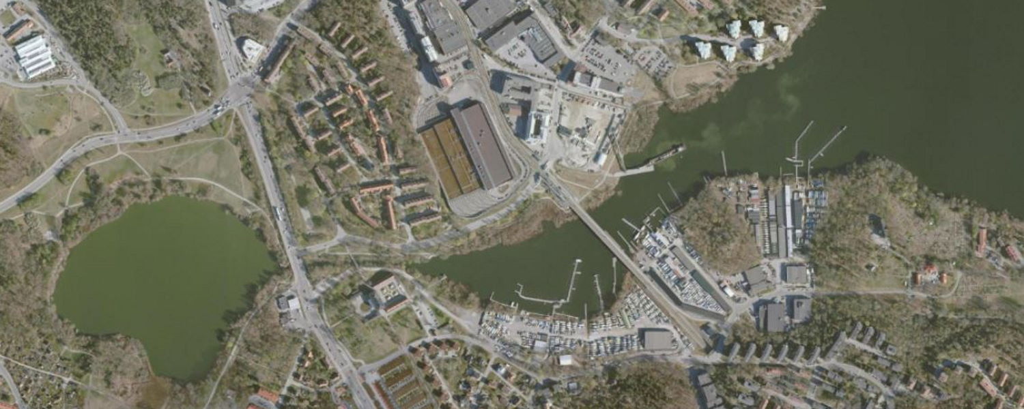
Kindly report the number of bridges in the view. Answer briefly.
1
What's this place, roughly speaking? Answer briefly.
port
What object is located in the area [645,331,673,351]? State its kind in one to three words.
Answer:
shed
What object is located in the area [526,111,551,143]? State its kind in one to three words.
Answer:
building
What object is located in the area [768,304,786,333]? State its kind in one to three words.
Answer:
building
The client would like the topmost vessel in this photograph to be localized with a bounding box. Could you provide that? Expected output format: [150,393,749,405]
[640,146,684,169]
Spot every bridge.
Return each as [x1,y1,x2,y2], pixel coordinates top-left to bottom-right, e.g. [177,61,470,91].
[537,169,711,352]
